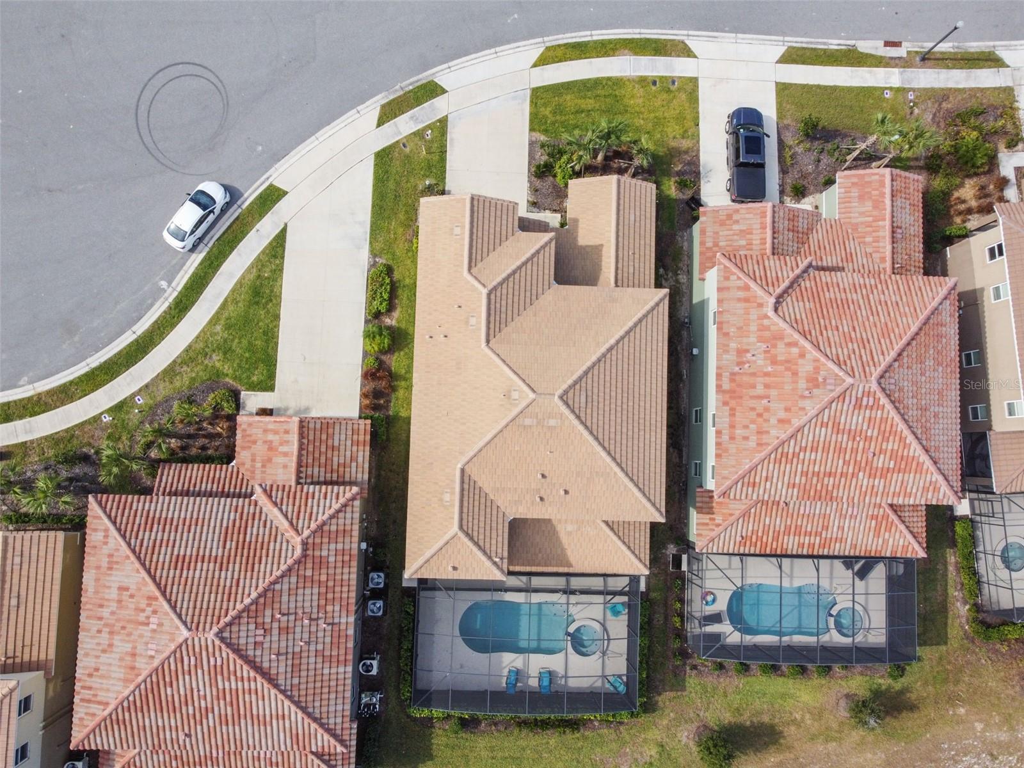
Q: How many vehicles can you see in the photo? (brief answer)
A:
2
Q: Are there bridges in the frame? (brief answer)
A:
No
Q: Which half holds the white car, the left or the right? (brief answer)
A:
left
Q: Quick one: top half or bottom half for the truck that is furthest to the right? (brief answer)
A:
top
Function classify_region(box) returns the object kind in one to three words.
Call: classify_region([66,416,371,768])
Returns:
house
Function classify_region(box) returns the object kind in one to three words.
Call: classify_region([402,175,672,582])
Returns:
house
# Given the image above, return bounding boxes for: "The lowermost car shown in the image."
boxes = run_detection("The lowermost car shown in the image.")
[162,179,231,250]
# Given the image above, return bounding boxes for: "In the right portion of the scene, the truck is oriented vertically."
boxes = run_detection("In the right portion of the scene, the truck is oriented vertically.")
[728,108,771,203]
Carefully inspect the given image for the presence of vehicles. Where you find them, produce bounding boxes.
[728,108,771,203]
[162,179,231,250]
